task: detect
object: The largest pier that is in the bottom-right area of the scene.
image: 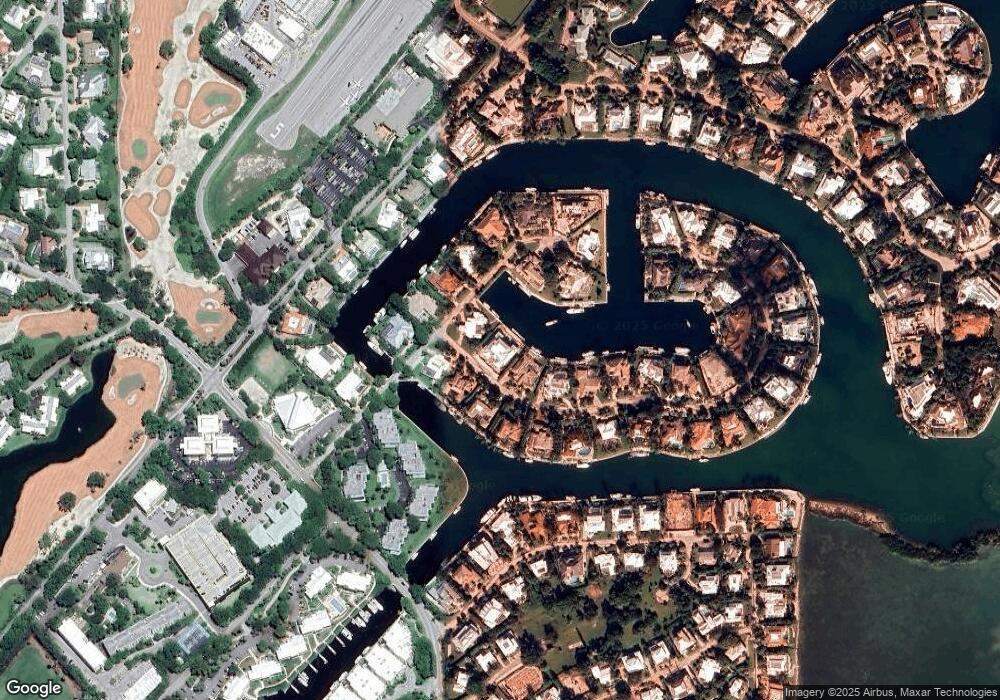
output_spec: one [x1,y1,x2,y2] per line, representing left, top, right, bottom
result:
[803,498,895,534]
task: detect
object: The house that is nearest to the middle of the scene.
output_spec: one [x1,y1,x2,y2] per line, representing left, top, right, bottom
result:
[479,336,519,372]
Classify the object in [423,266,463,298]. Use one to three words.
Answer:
house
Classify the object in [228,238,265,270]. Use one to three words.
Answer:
building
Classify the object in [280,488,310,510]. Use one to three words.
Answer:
building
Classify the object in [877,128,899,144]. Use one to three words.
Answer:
swimming pool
